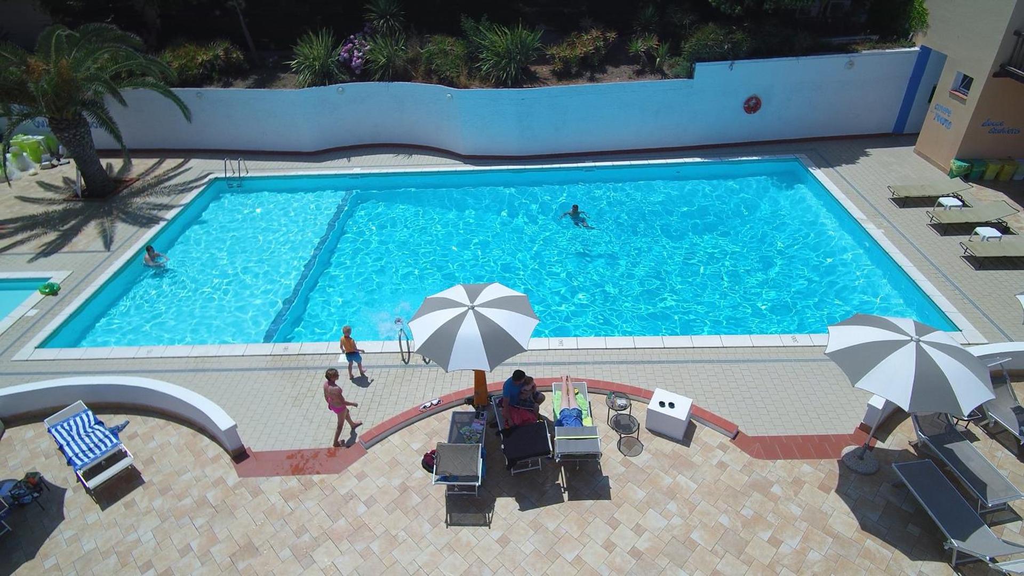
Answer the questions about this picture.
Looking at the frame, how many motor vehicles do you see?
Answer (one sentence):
There are no motor vehicles in this view.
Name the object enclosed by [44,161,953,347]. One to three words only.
swimming pool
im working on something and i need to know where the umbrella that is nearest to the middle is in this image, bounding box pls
[409,281,540,411]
